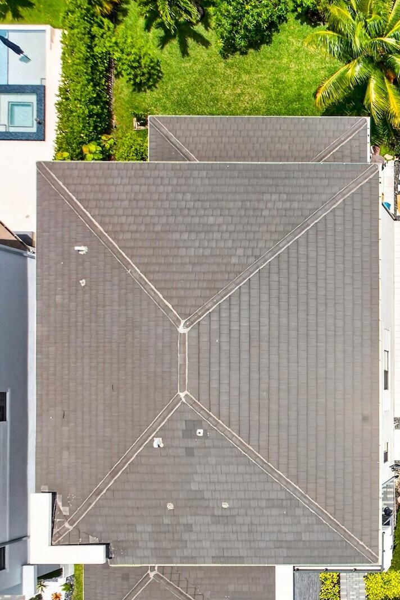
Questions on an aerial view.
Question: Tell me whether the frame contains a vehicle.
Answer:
No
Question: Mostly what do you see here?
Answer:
buildings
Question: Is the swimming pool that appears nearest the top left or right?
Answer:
left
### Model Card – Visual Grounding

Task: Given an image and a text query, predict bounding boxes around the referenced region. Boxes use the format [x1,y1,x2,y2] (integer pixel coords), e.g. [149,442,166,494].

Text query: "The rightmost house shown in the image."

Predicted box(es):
[29,113,398,600]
